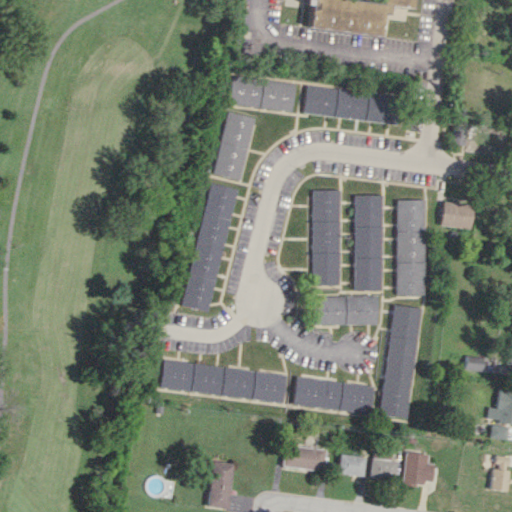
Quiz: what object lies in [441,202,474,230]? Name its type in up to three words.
house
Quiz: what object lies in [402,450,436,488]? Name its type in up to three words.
house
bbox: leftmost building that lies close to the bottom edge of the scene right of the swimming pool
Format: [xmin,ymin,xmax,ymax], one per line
[206,460,234,508]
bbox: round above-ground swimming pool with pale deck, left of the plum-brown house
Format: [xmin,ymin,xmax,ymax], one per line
[144,476,176,500]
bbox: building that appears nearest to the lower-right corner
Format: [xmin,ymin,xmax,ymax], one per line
[490,468,510,494]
